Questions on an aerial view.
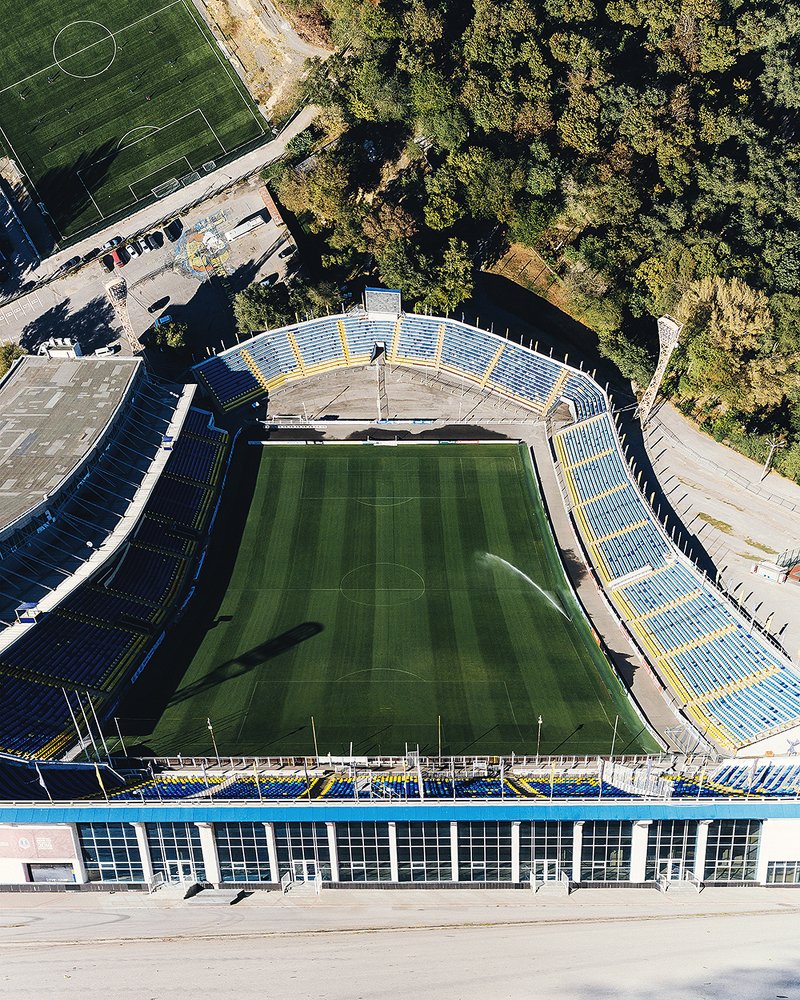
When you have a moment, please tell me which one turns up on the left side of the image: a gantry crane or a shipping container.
shipping container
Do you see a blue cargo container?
No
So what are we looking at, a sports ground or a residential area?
sports ground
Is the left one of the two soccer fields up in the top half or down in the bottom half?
top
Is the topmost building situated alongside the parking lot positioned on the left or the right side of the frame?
left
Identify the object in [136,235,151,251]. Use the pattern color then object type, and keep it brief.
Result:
white car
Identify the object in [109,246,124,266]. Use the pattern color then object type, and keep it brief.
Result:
red car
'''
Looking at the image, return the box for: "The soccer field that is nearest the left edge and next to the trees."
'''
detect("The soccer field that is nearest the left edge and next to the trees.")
[0,0,279,253]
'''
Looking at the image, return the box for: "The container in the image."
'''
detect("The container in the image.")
[254,180,287,226]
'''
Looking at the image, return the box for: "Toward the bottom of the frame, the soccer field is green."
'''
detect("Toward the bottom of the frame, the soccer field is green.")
[97,449,661,755]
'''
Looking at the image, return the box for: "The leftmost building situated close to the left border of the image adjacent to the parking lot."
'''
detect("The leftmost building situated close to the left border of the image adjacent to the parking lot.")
[0,354,148,571]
